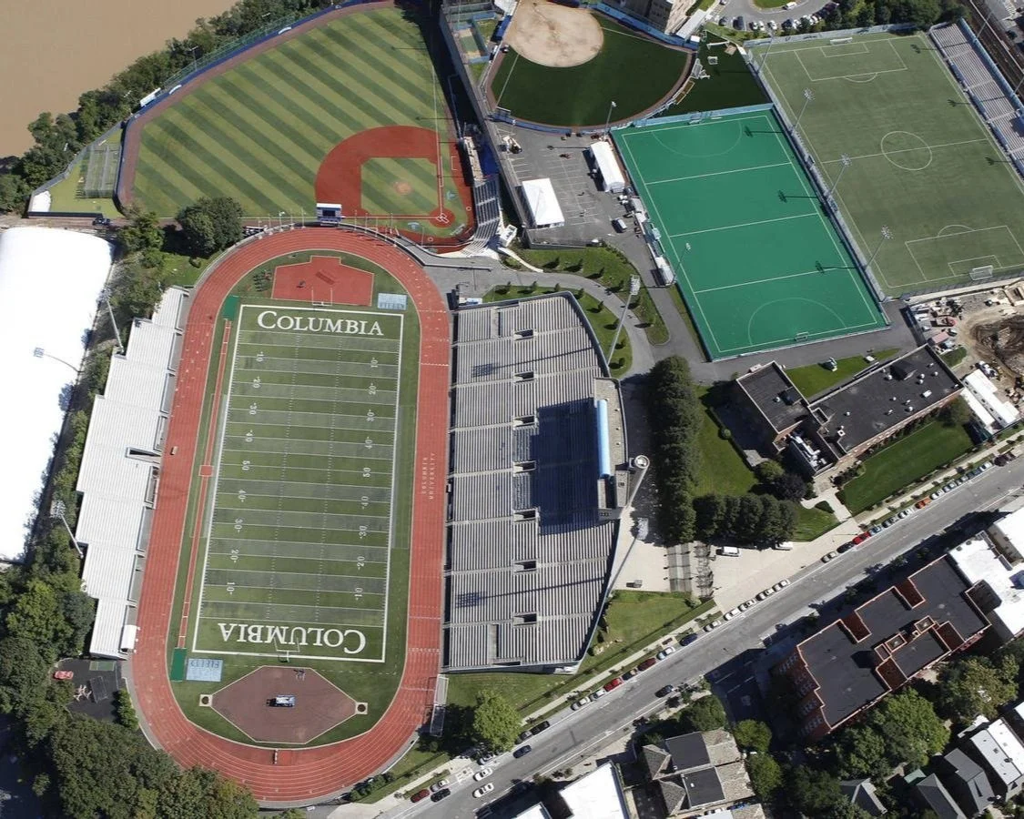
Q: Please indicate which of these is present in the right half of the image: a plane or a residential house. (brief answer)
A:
residential house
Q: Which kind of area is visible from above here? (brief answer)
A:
sports ground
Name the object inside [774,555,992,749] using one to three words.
building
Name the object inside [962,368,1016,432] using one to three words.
trailer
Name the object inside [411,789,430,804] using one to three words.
car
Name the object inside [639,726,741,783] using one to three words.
house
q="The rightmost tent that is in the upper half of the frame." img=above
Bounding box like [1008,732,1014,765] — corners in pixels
[589,142,624,196]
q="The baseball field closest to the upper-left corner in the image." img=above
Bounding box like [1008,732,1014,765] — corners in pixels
[117,0,477,252]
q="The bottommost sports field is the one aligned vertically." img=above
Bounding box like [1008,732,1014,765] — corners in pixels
[168,249,421,749]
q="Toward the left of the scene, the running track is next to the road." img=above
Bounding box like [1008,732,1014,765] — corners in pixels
[129,228,451,802]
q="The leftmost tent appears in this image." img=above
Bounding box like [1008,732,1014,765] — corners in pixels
[521,178,564,231]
